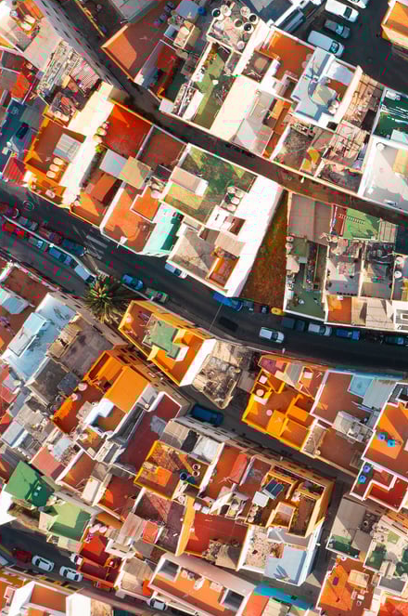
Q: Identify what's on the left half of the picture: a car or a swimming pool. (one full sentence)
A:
What appears on the left half of the picture is a car.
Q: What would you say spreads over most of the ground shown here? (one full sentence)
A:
The bulk of the photo consists of buildings.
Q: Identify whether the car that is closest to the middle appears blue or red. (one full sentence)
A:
The car that is closest to the middle looks blue in the image.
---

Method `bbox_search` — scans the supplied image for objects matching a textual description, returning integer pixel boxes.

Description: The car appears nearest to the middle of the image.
[213,290,241,311]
